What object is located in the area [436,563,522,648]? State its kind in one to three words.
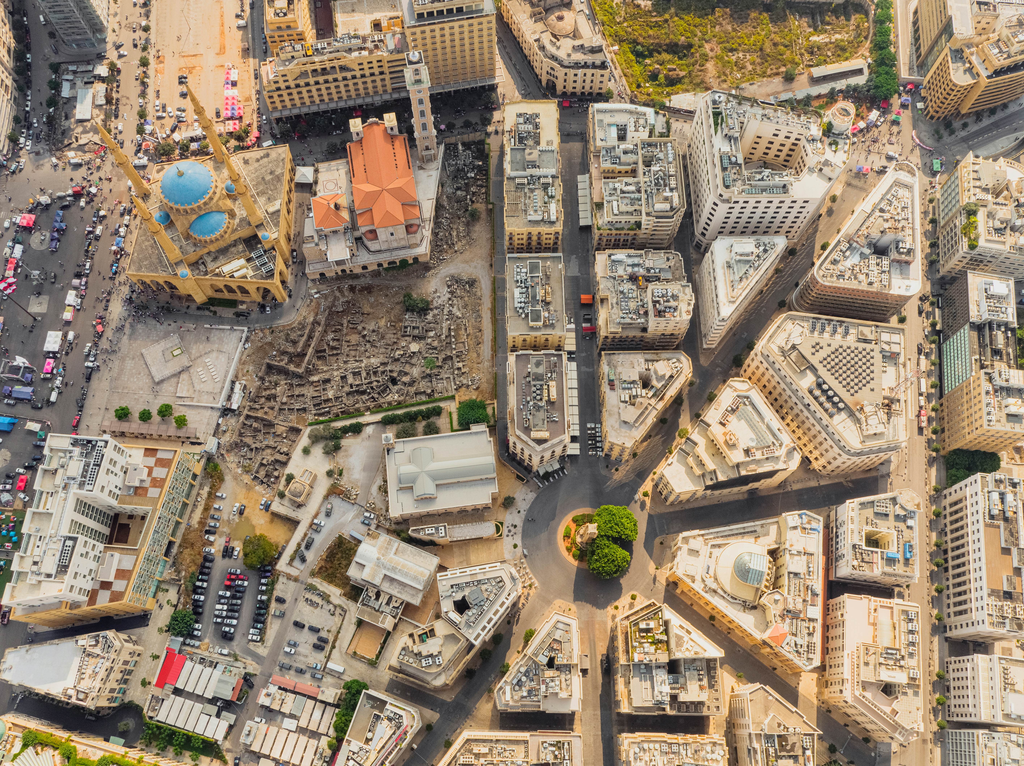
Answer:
building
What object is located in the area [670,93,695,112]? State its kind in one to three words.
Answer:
shed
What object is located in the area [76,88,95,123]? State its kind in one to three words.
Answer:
shed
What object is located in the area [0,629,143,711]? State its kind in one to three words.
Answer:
building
